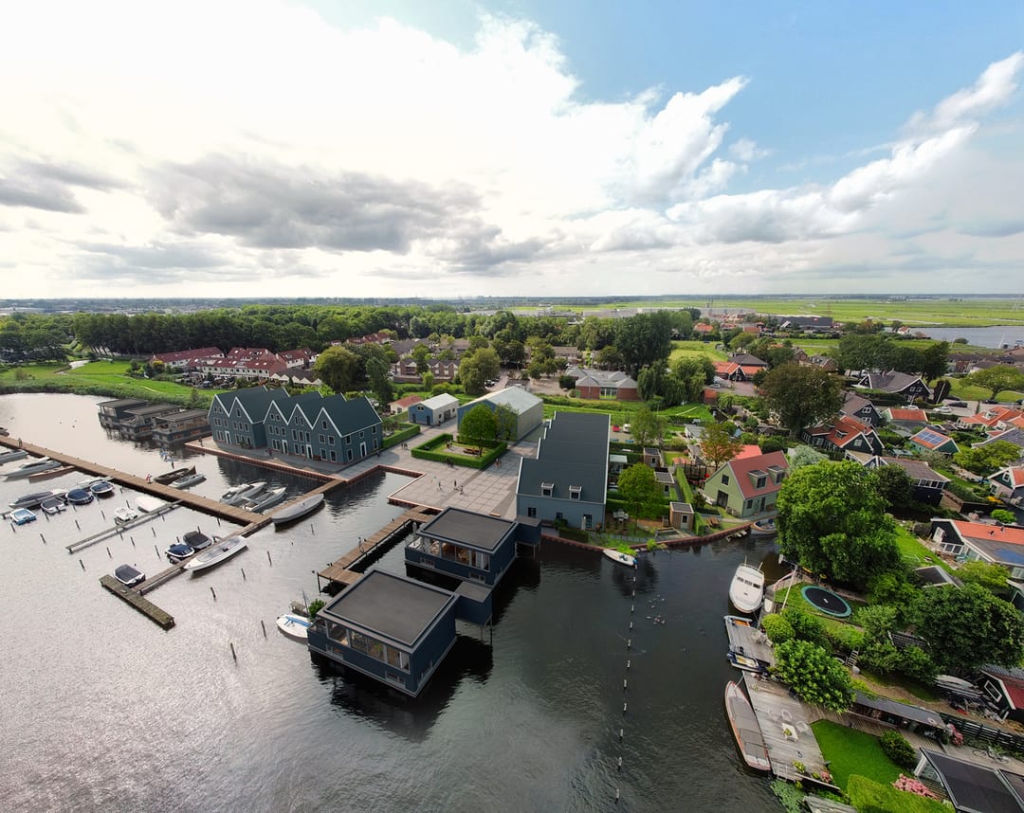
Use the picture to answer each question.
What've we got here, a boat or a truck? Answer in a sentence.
The one in the frame is a boat.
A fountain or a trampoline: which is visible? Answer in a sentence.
Looking from above, you can make out a trampoline.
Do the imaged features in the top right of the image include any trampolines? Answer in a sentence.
No, no trampoline is visible in the top right of the image.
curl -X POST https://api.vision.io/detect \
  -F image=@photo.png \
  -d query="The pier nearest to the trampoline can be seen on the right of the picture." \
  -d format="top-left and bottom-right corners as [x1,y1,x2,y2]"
[758,572,795,637]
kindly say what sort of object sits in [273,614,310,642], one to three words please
boat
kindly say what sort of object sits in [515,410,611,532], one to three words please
house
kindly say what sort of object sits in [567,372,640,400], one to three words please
building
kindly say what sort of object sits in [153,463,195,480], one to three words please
boat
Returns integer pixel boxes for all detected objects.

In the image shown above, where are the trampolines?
[802,587,853,619]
